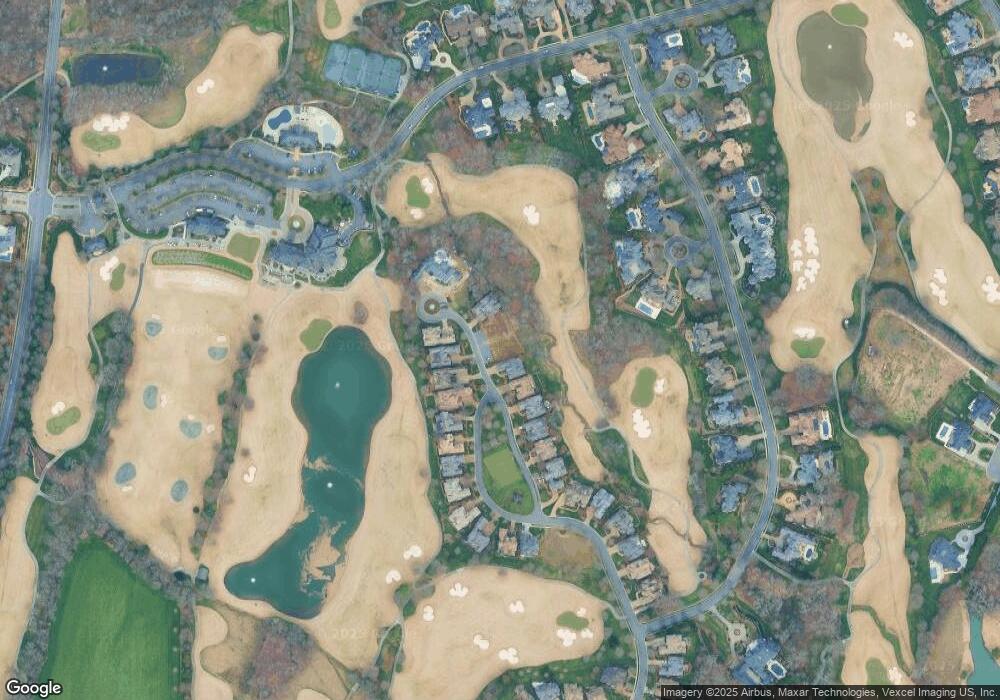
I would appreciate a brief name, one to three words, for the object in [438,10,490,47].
house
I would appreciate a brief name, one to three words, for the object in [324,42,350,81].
tennis court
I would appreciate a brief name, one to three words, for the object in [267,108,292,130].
swimming pool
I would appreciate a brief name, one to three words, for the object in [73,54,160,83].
pond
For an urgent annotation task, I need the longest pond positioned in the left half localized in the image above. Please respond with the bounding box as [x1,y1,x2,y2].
[226,327,391,618]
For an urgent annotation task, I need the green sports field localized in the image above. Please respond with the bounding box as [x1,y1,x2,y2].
[27,539,188,700]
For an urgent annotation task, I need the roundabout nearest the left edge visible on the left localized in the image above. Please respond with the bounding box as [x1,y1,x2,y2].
[278,206,313,240]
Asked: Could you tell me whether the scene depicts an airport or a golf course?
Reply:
golf course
